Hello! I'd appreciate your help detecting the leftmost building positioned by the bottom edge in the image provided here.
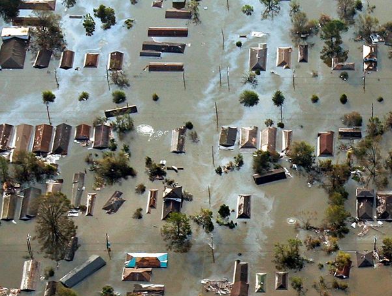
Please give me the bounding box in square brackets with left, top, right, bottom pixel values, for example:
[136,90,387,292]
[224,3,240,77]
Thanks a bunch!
[20,259,39,291]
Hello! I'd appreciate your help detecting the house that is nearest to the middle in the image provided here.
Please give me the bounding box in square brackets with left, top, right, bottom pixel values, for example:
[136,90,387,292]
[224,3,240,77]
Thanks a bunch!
[172,126,187,153]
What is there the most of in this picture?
water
